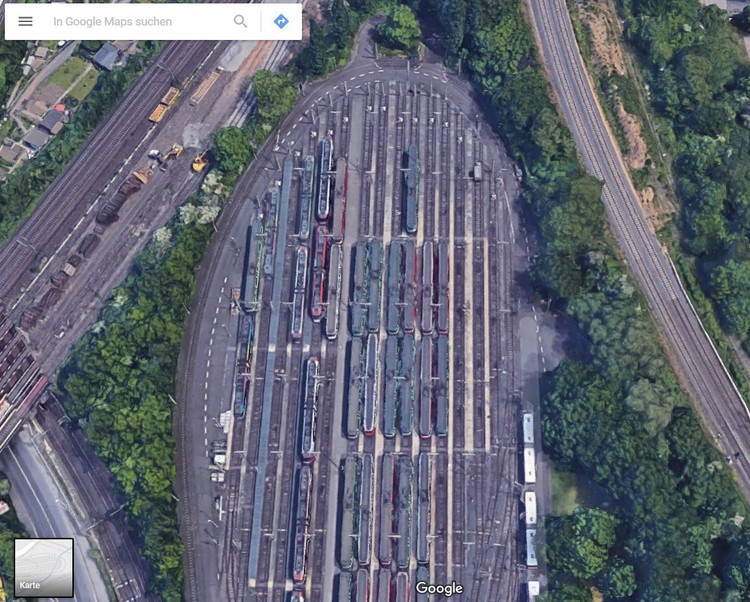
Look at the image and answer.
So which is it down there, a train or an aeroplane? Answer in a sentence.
There is a train in the scene.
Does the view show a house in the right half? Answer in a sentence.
No, I see no house in the right half.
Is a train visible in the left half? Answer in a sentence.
Yes, a train is visible in the left half.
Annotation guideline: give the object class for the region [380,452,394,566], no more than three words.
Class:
train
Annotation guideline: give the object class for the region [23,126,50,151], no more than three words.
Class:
house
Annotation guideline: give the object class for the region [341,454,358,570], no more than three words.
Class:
train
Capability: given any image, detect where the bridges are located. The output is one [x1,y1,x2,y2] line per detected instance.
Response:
[0,300,64,456]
